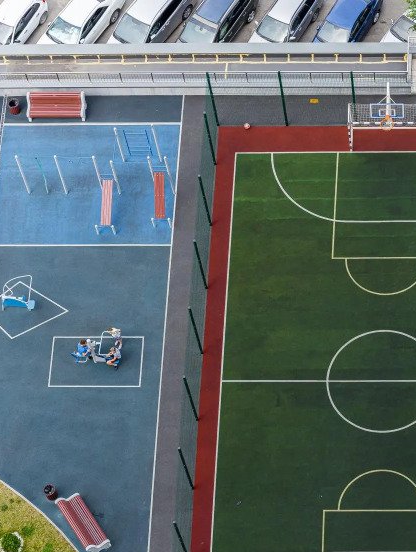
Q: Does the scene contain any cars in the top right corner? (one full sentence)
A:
Yes, a car is visible in the top right corner.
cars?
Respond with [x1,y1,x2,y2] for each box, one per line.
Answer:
[248,0,331,43]
[375,0,416,46]
[174,0,258,43]
[40,0,126,43]
[0,0,58,43]
[309,0,390,43]
[109,0,193,43]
